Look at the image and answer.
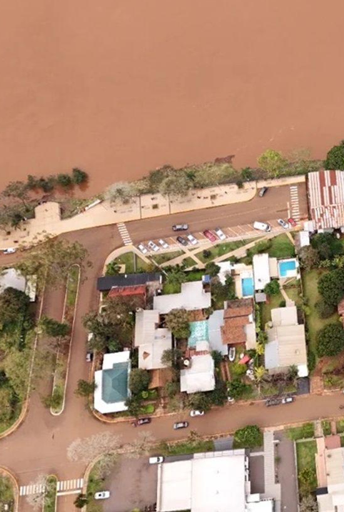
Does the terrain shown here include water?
Yes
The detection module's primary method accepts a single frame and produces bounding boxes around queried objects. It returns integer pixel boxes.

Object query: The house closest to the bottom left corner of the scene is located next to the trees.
[94,350,133,415]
